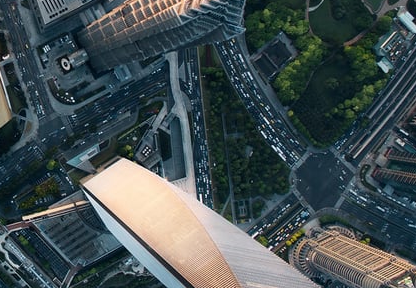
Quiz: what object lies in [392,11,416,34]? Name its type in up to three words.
building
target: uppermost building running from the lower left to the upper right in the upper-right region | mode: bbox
[372,31,399,58]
